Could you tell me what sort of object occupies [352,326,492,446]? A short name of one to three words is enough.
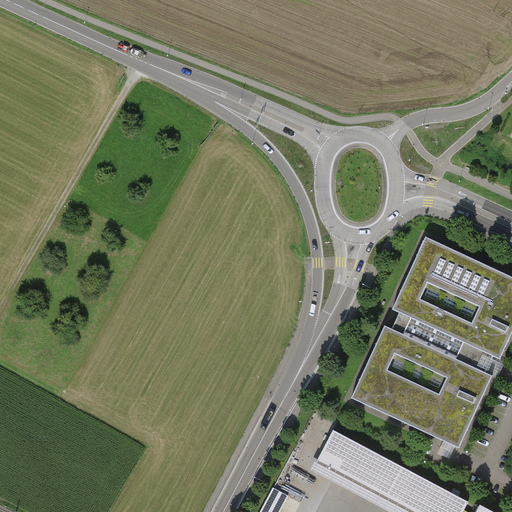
building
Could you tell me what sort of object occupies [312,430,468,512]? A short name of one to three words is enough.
building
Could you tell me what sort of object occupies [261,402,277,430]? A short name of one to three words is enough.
vehicle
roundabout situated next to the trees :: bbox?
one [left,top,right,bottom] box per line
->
[314,126,406,245]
